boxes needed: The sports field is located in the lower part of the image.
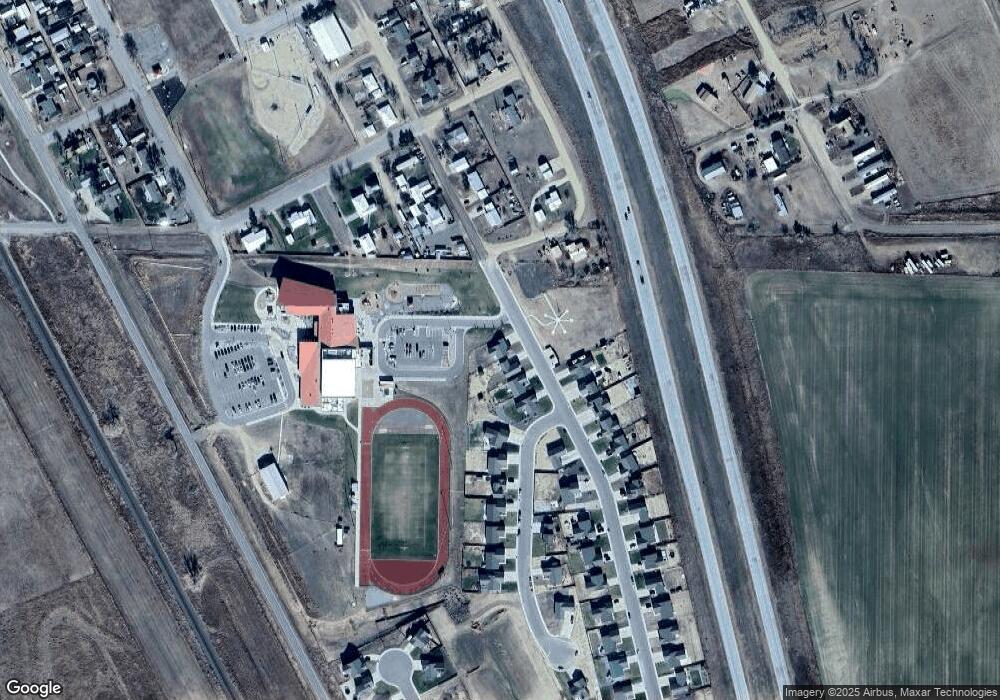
[373,432,438,561]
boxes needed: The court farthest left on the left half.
[152,76,186,115]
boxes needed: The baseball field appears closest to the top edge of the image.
[247,25,325,154]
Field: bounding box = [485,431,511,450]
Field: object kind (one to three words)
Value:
house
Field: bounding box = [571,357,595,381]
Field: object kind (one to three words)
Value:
house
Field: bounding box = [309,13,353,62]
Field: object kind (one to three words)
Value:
building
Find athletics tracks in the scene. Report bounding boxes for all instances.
[361,397,449,596]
